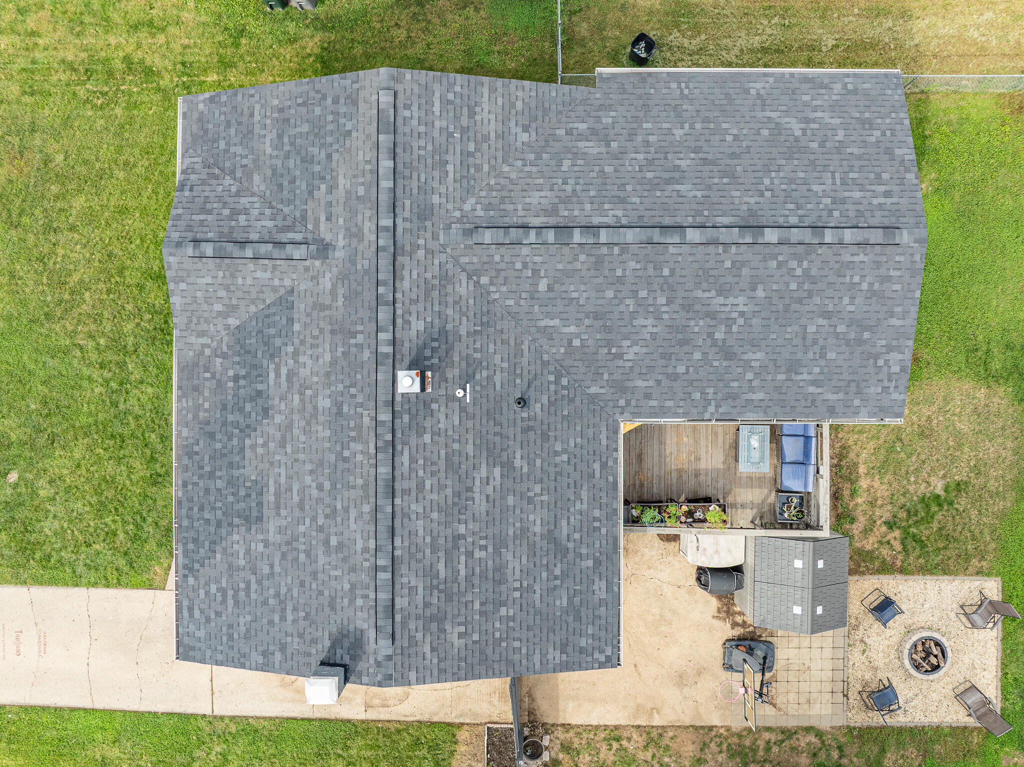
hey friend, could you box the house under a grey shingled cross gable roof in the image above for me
[162,67,928,704]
